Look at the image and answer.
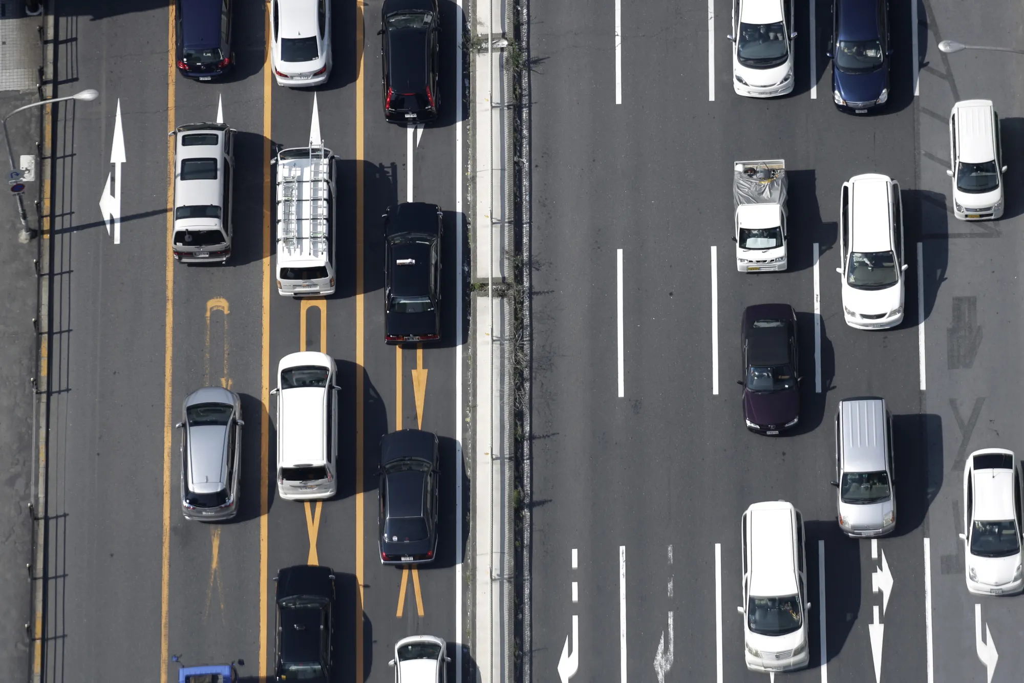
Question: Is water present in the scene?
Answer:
No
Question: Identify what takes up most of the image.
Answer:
paved ground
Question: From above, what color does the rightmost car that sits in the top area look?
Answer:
white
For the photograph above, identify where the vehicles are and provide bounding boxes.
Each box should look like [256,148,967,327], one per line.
[830,393,901,537]
[173,656,244,683]
[727,0,799,97]
[736,305,805,436]
[946,101,1008,220]
[274,565,337,683]
[272,146,340,296]
[737,499,812,672]
[270,0,332,87]
[387,637,453,683]
[731,203,790,272]
[958,449,1024,594]
[375,0,444,124]
[373,430,444,564]
[836,175,908,329]
[271,352,341,500]
[383,203,445,344]
[826,0,895,114]
[176,387,247,520]
[175,0,235,81]
[170,120,238,263]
